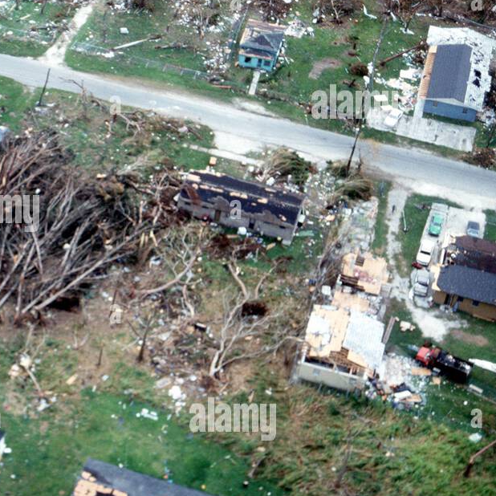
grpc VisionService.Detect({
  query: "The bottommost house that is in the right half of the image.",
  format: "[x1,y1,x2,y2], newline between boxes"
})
[296,305,383,395]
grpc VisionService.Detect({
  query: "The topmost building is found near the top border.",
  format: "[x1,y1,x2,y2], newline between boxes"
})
[236,19,285,71]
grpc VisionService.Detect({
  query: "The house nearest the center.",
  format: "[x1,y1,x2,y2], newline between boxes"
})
[177,169,305,239]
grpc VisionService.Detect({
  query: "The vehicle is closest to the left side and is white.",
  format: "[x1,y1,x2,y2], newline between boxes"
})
[383,109,407,128]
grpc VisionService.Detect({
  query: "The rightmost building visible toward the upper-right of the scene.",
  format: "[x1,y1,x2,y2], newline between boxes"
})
[417,27,496,126]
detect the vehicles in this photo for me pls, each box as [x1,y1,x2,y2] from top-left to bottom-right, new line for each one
[465,216,482,240]
[418,238,436,267]
[412,351,481,395]
[411,270,431,300]
[427,210,445,237]
[383,109,407,128]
